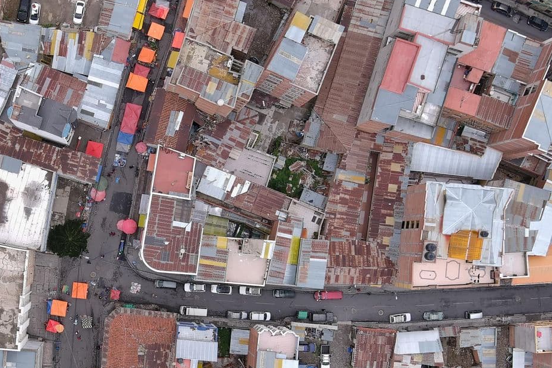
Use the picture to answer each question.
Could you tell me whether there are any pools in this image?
No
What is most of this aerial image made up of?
buildings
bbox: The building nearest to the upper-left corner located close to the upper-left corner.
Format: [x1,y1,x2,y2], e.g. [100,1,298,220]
[0,25,42,74]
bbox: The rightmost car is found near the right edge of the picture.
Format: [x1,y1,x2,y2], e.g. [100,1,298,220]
[526,16,550,30]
